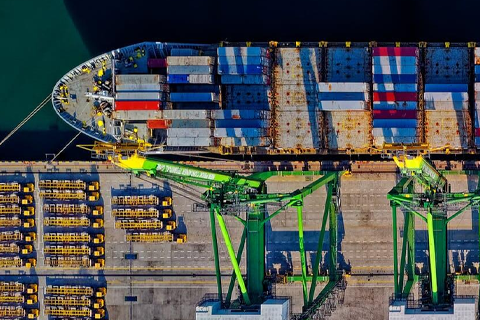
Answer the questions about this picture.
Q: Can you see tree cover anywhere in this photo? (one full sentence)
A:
No, there is no tree cover in the image.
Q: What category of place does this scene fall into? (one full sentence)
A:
This looks like a port.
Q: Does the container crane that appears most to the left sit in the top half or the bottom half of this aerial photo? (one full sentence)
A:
The bottom half of the photo is where the container crane that appears most to the left is.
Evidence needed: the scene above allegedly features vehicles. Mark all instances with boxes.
[0,216,38,228]
[46,285,110,296]
[38,190,102,201]
[0,243,37,254]
[116,219,180,231]
[0,306,43,317]
[44,256,108,267]
[0,257,38,267]
[112,195,175,207]
[0,281,41,293]
[44,232,108,243]
[44,217,108,228]
[0,231,39,243]
[43,245,107,256]
[43,204,107,214]
[44,306,108,318]
[112,207,176,219]
[43,296,107,308]
[0,195,36,205]
[39,180,103,190]
[0,205,38,216]
[0,292,41,303]
[126,232,190,243]
[0,182,38,192]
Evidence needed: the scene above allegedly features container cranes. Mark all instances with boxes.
[367,145,480,320]
[89,145,346,320]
